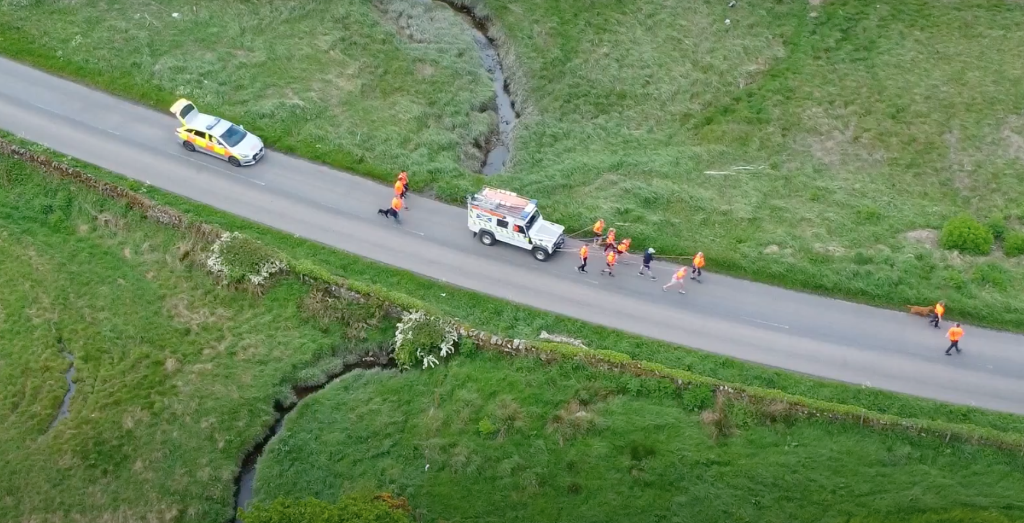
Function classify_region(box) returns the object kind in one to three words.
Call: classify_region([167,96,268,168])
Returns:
car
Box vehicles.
[167,96,268,168]
[469,183,569,262]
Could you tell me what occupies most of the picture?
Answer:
grass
